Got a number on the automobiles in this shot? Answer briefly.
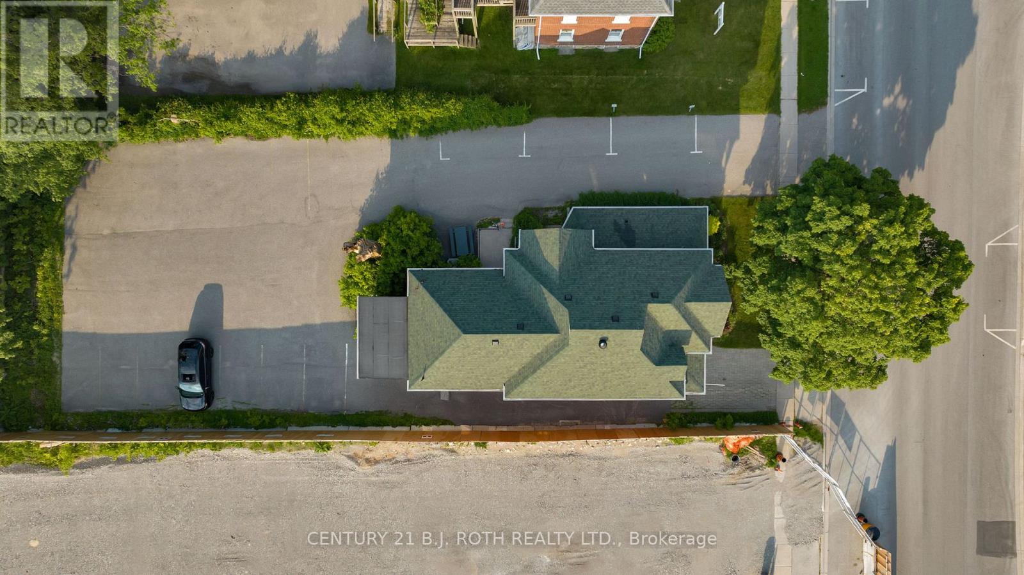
1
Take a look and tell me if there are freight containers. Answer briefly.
No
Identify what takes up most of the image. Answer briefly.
paved ground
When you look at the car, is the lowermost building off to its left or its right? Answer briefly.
on its right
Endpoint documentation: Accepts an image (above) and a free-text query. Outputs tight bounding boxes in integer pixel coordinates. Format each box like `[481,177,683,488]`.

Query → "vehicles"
[175,337,214,410]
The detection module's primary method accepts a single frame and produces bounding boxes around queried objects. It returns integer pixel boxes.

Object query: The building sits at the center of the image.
[356,203,734,402]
